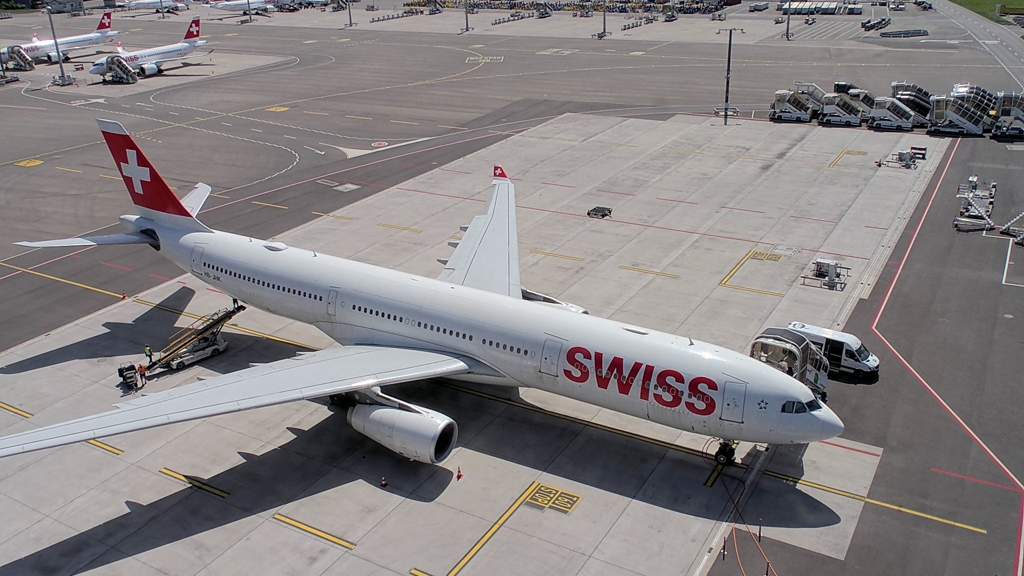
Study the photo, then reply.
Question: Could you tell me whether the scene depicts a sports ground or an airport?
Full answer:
It's an airport.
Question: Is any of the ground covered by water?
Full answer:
No, no water is visible.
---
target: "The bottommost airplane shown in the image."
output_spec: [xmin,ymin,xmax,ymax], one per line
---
[0,118,844,466]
